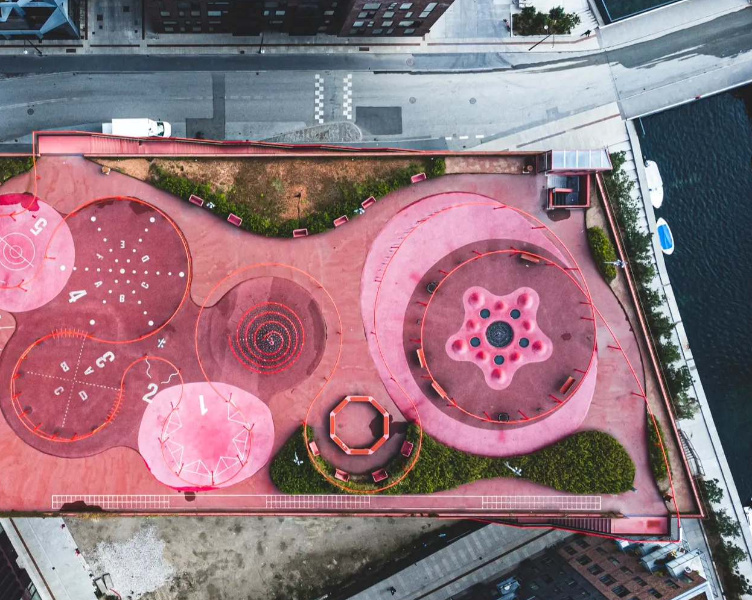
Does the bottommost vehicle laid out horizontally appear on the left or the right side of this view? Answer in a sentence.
The bottommost vehicle laid out horizontally sits on the left side.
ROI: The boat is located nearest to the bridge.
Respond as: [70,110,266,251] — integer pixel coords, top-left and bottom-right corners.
[645,159,663,208]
